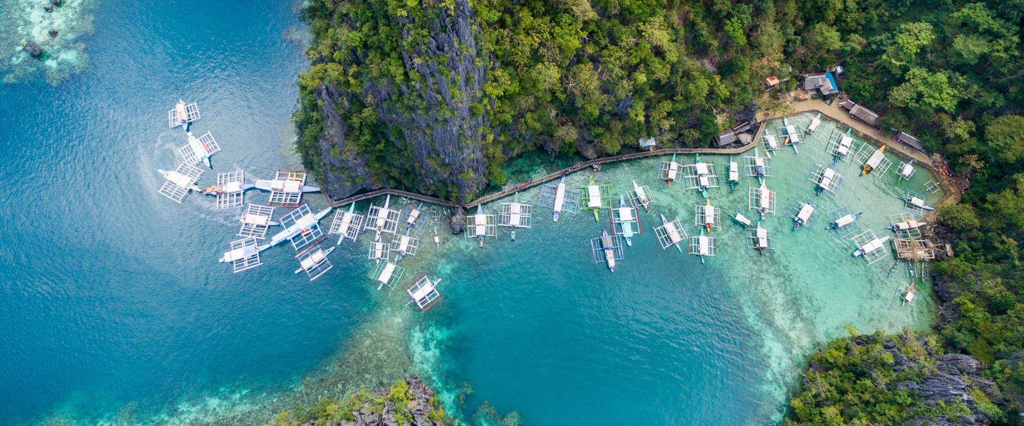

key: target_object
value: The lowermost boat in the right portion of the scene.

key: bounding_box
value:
[896,282,920,307]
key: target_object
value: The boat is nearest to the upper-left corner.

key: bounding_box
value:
[168,98,201,130]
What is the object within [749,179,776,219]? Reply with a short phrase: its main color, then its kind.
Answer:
white boat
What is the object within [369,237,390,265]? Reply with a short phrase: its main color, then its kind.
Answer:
white boat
